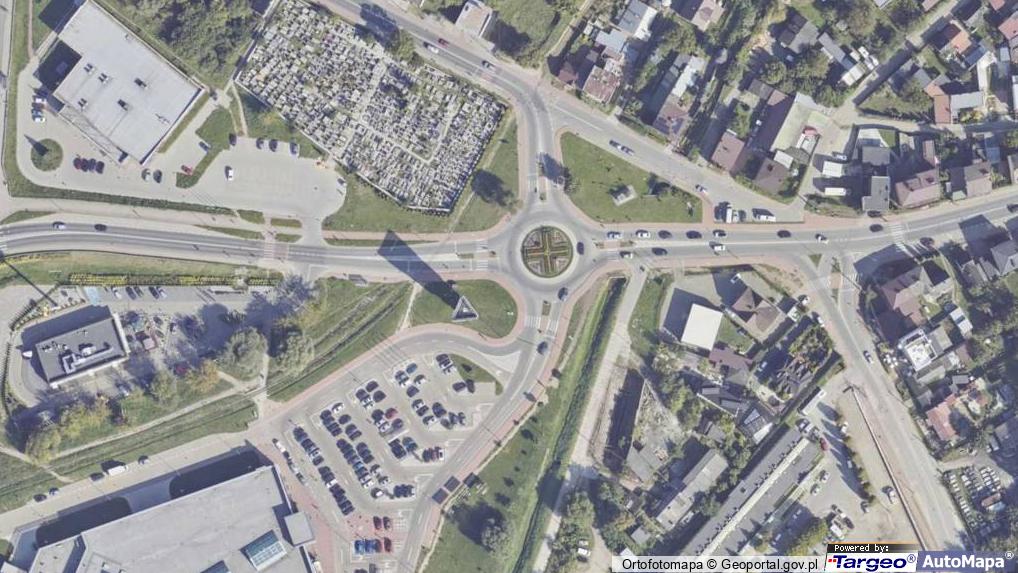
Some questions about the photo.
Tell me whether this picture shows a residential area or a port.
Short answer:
residential area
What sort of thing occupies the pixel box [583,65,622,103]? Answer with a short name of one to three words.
house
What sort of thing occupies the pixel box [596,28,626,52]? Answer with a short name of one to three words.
building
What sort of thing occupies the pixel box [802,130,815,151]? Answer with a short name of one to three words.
vehicle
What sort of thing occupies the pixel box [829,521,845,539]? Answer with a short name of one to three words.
vehicle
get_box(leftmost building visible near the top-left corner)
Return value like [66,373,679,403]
[54,0,206,166]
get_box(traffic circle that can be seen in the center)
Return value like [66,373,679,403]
[501,205,593,297]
